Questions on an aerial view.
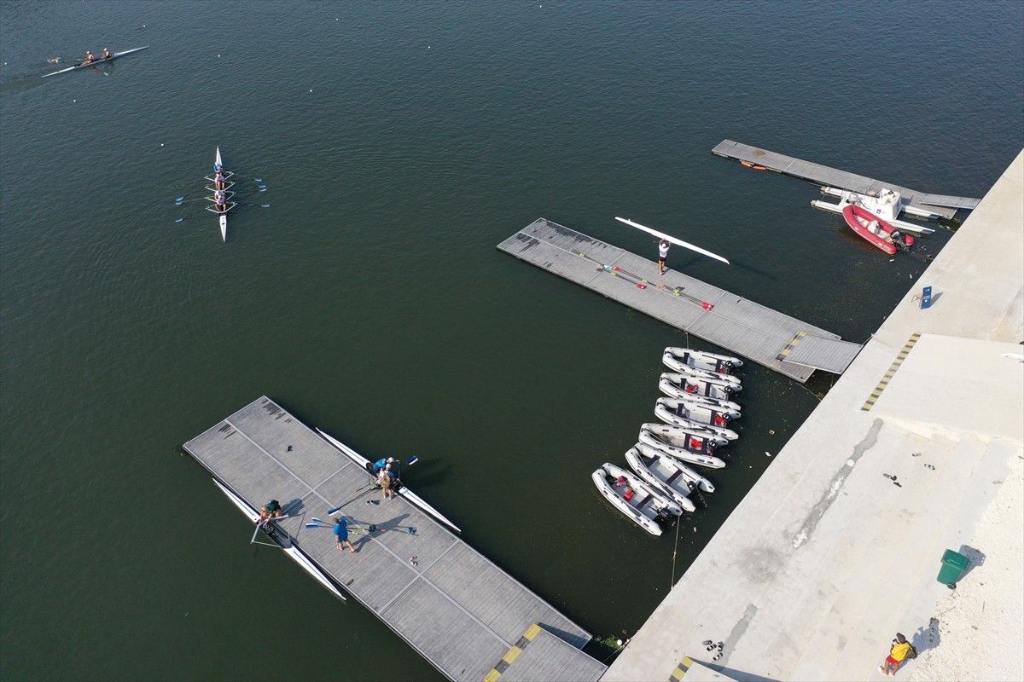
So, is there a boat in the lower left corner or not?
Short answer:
Yes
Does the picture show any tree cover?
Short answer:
No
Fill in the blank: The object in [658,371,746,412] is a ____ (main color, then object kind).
white boat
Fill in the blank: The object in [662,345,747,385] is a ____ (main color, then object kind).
white boat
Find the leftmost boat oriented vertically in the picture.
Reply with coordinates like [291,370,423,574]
[206,149,235,243]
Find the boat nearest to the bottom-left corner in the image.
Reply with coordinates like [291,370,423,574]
[211,480,346,606]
